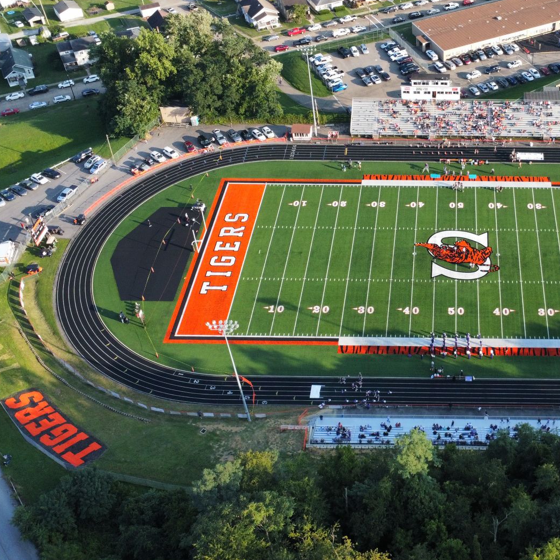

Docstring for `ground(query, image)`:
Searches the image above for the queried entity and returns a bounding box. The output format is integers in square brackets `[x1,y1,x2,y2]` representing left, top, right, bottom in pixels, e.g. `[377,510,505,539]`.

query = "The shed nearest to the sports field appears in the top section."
[291,120,312,141]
